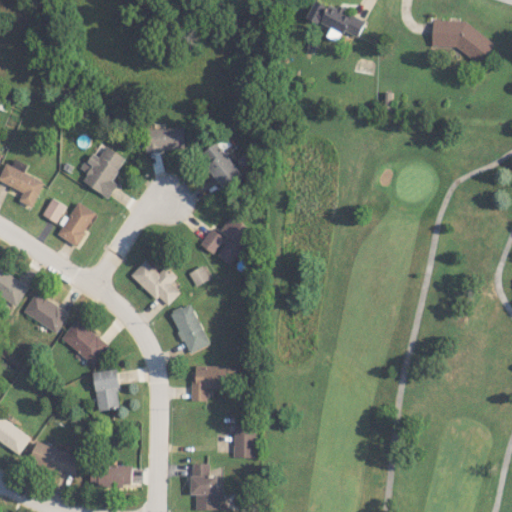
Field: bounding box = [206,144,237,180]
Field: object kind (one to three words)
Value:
house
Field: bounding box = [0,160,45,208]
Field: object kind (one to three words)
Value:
house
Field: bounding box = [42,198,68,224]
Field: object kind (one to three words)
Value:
building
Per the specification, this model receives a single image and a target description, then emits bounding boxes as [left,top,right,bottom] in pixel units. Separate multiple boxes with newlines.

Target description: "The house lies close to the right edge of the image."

[432,20,494,63]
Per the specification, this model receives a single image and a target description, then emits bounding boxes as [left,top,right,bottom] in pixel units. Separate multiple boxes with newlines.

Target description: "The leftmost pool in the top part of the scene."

[78,135,94,150]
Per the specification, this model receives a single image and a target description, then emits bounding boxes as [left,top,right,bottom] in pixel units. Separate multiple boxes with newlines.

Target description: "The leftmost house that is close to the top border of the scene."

[306,2,365,36]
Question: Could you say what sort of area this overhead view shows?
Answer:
golf course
